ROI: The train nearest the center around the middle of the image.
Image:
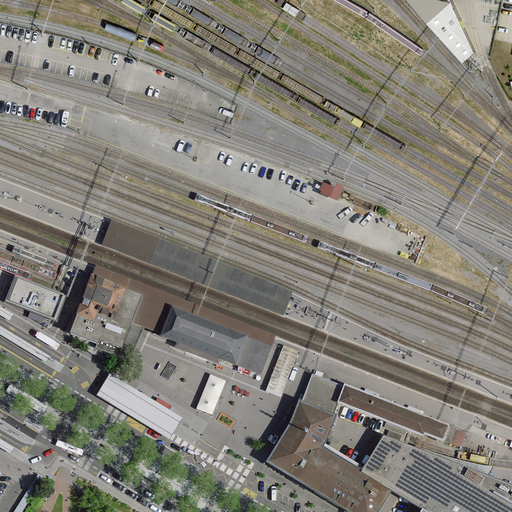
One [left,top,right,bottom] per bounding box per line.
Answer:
[194,194,310,243]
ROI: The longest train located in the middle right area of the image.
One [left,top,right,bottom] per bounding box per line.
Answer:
[312,239,489,314]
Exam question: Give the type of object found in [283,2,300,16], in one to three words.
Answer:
rail car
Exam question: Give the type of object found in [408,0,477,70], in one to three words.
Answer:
building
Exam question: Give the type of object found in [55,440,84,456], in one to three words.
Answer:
vehicle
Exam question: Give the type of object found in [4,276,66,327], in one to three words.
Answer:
building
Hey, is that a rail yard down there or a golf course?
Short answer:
rail yard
